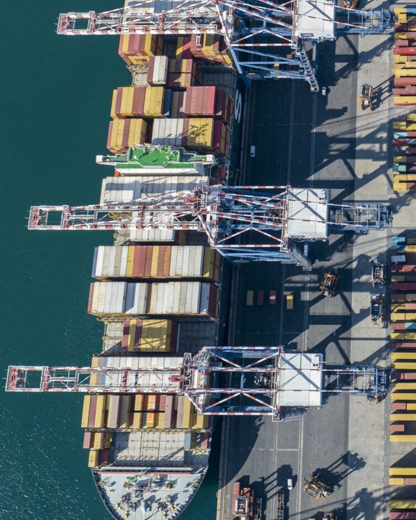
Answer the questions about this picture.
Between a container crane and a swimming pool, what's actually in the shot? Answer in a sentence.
It is a container crane that can be seen here.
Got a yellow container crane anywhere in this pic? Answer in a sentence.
No, no yellow container crane is visible in the scene.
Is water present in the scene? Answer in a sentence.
Yes, water shows up in the scene.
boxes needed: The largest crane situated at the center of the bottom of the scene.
[3,341,385,422]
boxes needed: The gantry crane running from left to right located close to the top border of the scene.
[54,0,391,95]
